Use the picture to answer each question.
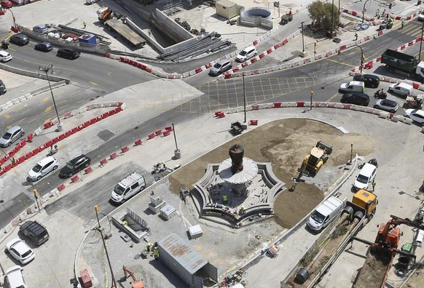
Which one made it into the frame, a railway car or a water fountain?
water fountain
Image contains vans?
Yes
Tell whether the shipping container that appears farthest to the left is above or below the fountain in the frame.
below it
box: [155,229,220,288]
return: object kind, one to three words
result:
shipping container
